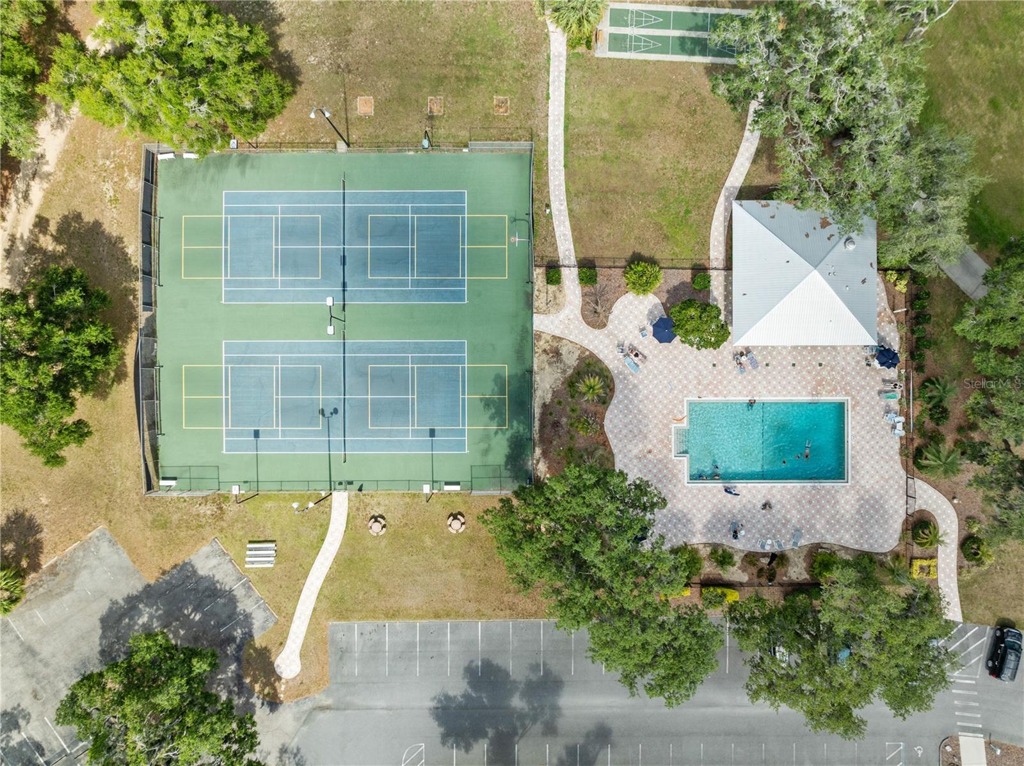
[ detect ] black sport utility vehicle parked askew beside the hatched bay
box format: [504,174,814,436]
[989,626,1024,682]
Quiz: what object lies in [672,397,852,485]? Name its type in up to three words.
swimming pool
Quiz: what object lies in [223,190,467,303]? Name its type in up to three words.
tennis court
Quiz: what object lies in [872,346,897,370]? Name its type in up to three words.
umbrella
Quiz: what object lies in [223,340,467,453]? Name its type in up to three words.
tennis court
